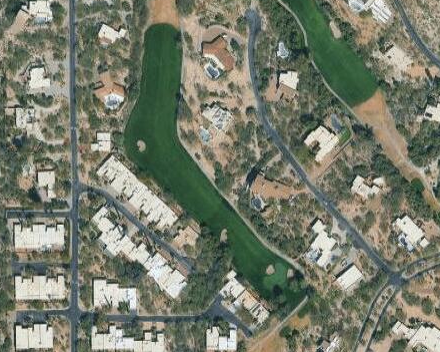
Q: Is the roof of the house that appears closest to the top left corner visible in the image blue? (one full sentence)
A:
No, the roof of the house that appears closest to the top left corner is actually white.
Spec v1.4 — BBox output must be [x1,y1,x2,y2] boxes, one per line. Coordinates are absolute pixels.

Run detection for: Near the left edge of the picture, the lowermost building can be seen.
[16,323,54,349]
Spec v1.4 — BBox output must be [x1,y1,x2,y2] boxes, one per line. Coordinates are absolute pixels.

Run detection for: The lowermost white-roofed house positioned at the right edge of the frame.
[391,320,440,352]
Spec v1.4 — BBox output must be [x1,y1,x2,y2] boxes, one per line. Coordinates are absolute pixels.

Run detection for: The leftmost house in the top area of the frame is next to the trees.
[5,108,34,127]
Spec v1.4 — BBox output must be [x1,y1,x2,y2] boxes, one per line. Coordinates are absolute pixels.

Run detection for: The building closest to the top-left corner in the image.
[21,0,54,22]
